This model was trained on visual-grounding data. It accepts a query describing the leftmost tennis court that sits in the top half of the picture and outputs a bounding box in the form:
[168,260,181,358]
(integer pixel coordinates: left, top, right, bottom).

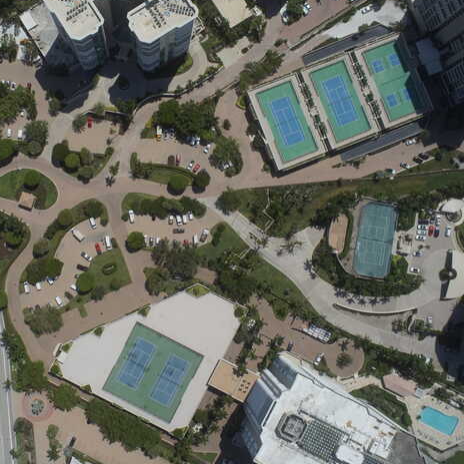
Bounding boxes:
[256,81,317,162]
